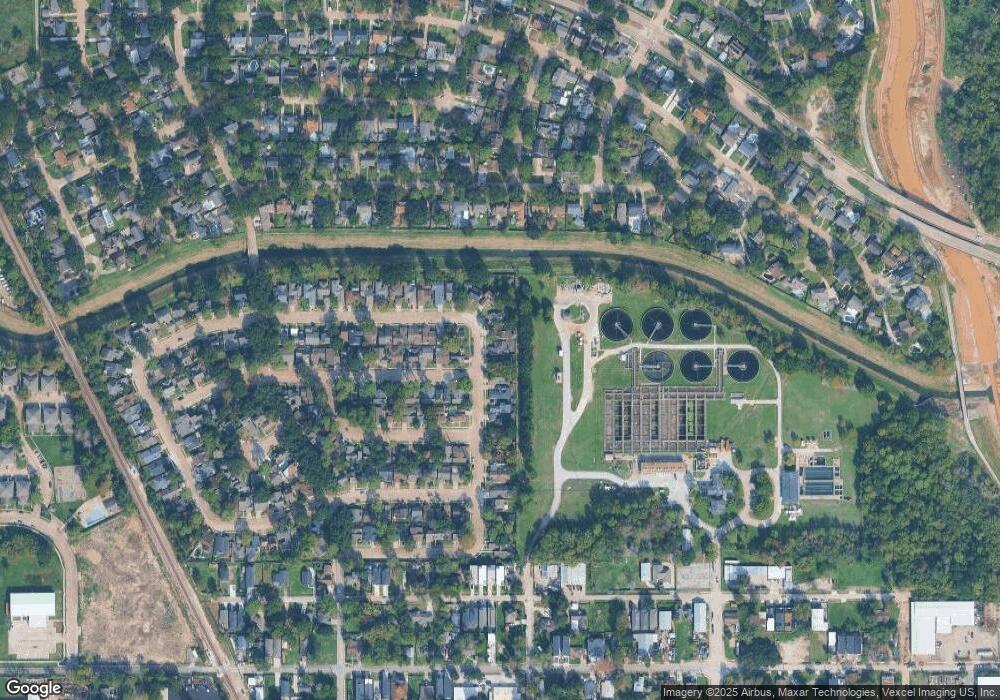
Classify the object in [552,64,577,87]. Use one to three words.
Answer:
house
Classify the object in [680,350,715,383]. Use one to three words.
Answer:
storage tank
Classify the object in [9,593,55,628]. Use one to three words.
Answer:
building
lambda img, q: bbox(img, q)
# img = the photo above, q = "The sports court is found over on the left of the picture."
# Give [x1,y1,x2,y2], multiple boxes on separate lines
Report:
[54,466,86,503]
